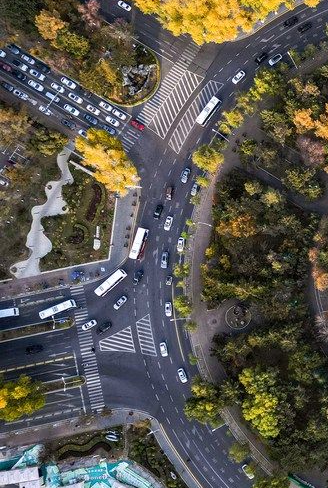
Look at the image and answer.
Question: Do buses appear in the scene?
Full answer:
Yes, a bus can be made out from above.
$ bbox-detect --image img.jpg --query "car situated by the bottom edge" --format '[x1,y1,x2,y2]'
[241,465,254,478]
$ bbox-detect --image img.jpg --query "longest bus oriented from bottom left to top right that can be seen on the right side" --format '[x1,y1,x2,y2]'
[195,94,227,129]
